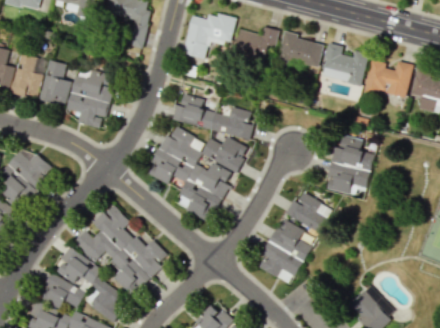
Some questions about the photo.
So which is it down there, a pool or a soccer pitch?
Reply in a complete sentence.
The image shows a pool.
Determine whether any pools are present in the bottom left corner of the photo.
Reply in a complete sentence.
No, I can find no pool in the bottom left corner of the photo.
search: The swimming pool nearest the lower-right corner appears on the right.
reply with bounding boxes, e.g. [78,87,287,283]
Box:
[378,275,410,306]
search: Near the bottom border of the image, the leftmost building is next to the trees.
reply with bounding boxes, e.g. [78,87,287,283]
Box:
[26,306,60,328]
